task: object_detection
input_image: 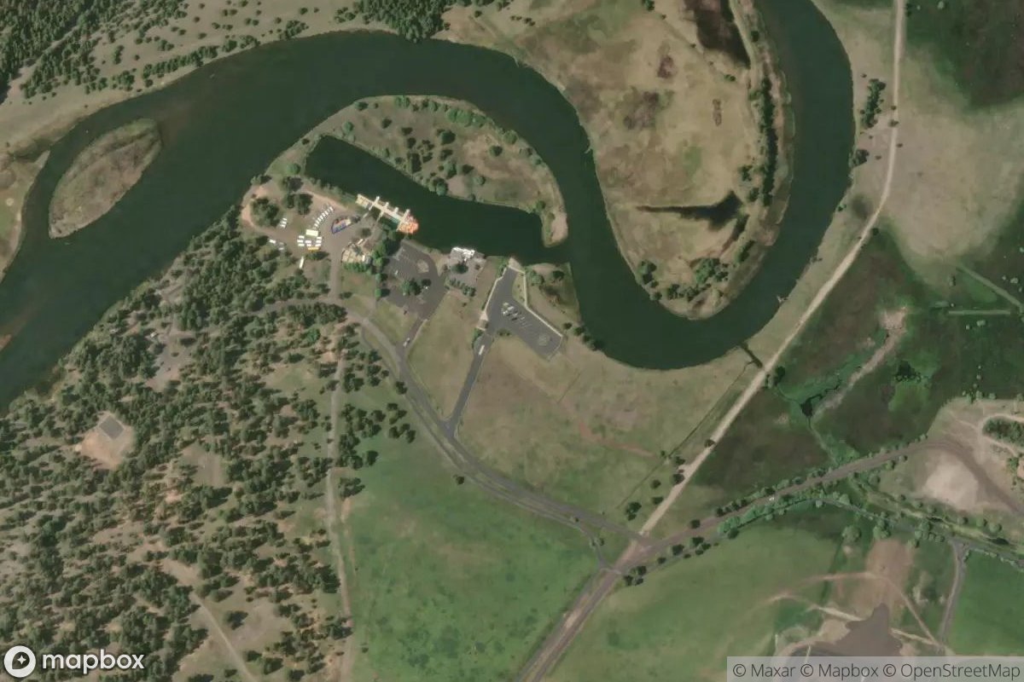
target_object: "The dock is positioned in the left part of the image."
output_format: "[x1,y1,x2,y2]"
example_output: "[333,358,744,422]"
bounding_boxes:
[355,195,409,231]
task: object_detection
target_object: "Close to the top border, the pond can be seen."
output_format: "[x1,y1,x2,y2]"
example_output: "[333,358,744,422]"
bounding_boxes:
[693,0,750,68]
